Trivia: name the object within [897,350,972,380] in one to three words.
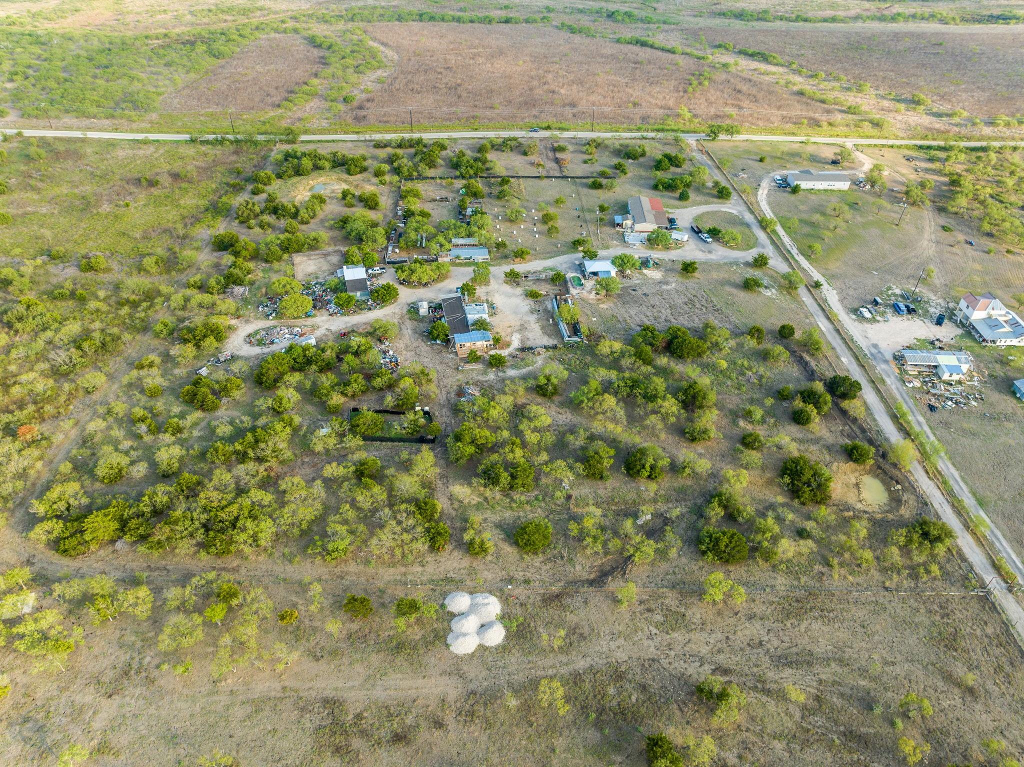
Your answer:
shed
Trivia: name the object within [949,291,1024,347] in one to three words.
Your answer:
house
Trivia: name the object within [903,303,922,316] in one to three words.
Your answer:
vehicle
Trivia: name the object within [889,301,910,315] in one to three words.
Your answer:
vehicle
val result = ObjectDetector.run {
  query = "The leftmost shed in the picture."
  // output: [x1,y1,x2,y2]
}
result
[337,263,368,302]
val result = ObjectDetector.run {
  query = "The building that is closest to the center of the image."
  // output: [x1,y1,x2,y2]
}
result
[448,334,491,364]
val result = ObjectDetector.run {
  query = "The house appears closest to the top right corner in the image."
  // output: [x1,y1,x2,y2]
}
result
[786,165,851,190]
